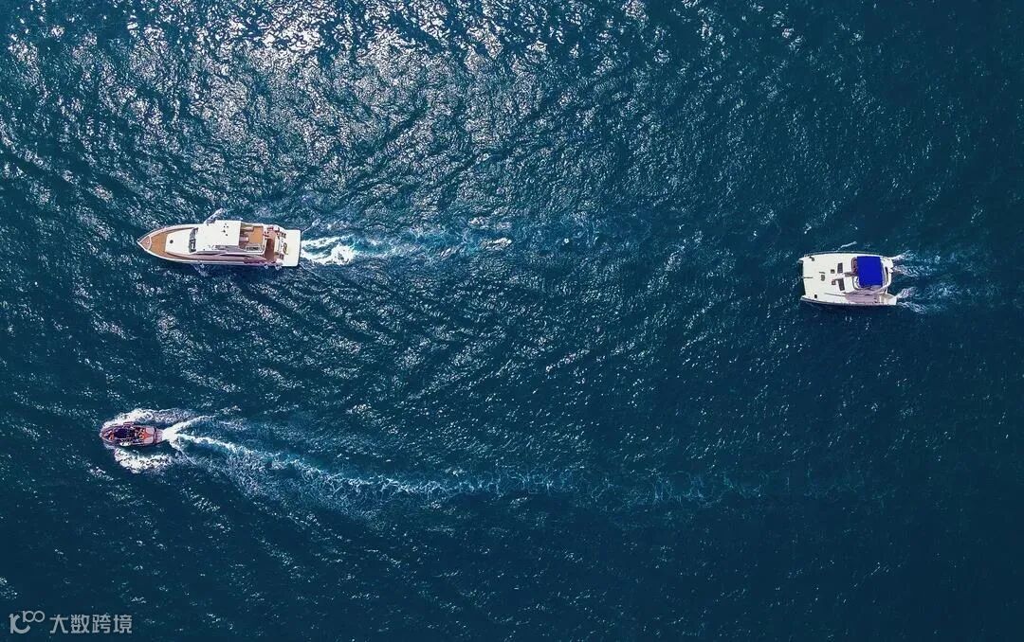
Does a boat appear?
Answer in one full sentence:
Yes, the image includes a boat.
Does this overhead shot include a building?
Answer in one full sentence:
No, I can't see a single building in this photo.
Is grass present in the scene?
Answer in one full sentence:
No, the scene doesn't show any grass.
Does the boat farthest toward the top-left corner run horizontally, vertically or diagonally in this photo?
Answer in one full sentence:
What the image shows is the boat farthest toward the top-left corner lying horizontally.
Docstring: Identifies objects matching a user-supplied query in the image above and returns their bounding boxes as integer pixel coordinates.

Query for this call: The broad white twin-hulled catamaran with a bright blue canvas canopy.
[793,251,896,310]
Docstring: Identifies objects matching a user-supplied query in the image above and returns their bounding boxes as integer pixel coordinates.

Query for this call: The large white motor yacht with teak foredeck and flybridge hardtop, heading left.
[135,220,302,267]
